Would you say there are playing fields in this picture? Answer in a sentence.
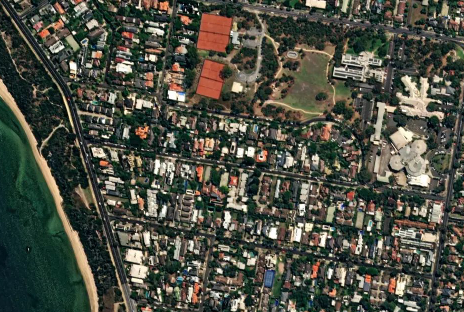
Yes, a playing field is visible in the scene.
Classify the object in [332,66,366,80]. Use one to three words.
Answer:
building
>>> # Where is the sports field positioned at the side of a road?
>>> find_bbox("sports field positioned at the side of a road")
[282,52,333,112]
